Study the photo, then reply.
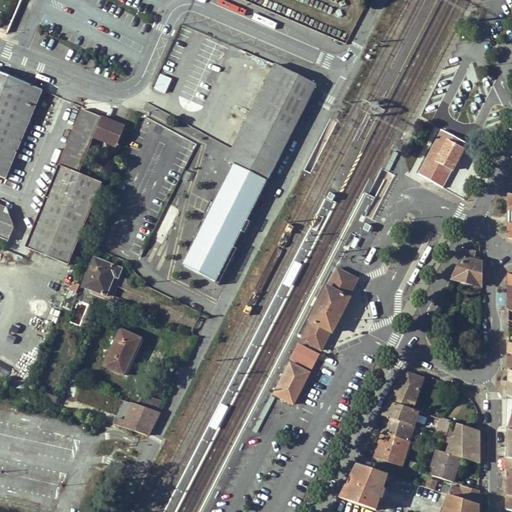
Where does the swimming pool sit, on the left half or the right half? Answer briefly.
left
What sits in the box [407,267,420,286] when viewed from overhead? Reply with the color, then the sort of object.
white vehicle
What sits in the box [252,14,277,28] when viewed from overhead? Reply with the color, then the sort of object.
white vehicle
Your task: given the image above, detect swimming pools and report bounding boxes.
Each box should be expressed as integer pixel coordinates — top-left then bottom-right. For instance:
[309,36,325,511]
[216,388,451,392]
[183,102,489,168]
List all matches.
[69,300,90,326]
